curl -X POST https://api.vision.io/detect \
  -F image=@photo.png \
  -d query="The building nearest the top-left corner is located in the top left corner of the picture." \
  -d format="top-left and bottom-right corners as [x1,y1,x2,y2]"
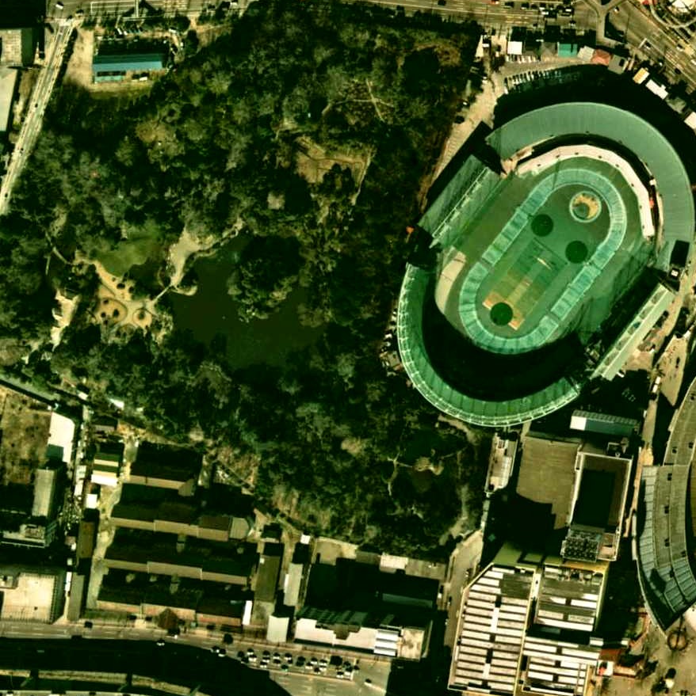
[0,27,40,66]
